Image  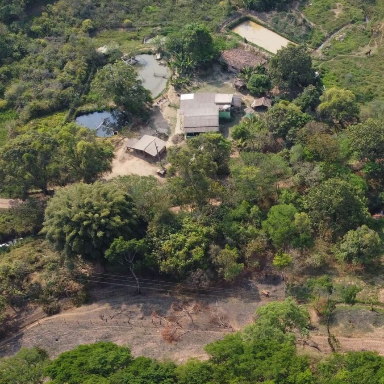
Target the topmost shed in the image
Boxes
[221,47,267,77]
